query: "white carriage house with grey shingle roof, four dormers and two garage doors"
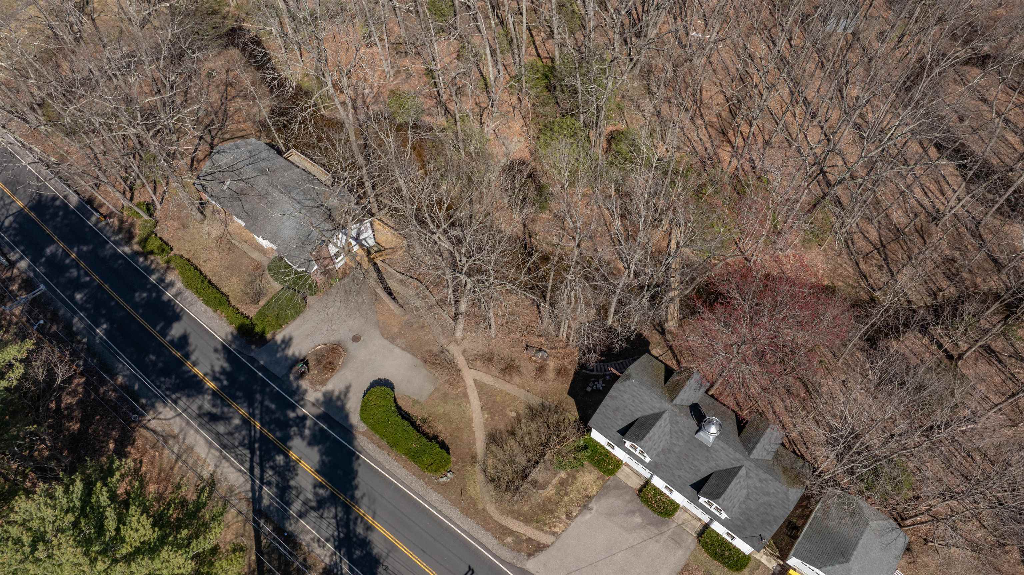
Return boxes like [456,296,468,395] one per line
[588,352,810,553]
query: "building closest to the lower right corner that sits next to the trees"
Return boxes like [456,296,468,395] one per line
[781,484,910,575]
